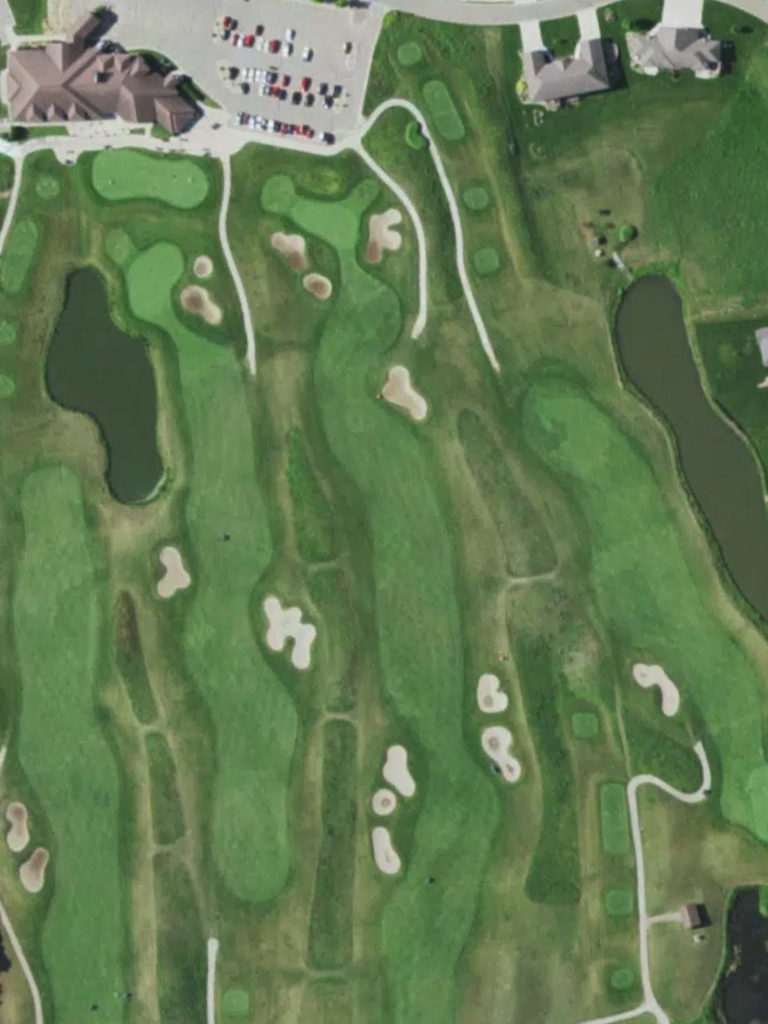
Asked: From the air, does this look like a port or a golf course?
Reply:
golf course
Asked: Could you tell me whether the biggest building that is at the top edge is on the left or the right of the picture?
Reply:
left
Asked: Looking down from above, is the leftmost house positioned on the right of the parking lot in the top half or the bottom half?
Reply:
top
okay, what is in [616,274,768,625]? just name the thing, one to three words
pond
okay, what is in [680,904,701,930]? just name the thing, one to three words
shed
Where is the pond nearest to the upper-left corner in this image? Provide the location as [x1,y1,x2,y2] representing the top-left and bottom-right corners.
[46,267,165,504]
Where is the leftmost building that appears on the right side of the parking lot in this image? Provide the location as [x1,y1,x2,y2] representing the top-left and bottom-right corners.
[523,38,611,100]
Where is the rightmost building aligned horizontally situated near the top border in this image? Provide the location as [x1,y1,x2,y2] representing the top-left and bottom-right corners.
[630,28,723,70]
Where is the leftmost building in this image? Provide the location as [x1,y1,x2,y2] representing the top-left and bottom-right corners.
[7,11,197,135]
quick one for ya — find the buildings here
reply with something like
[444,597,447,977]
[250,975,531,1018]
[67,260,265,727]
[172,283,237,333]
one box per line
[523,38,611,100]
[7,11,197,135]
[756,328,768,367]
[680,904,701,930]
[630,28,723,70]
